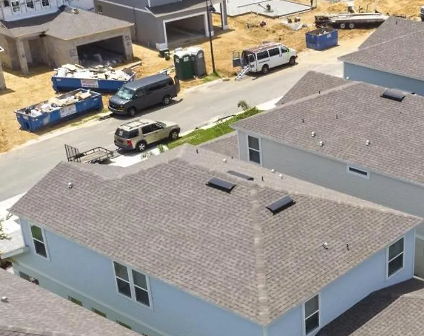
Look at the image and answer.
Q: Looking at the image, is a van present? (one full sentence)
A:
Yes, there is a van in the image.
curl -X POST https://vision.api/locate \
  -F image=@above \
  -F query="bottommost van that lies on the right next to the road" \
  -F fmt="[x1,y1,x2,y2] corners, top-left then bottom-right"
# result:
[239,40,305,74]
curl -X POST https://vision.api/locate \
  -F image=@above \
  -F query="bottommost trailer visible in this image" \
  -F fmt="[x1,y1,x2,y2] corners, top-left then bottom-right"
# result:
[65,135,120,163]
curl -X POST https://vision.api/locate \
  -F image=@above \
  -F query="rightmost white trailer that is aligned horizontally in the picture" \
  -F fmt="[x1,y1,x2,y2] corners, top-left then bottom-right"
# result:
[308,10,400,27]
